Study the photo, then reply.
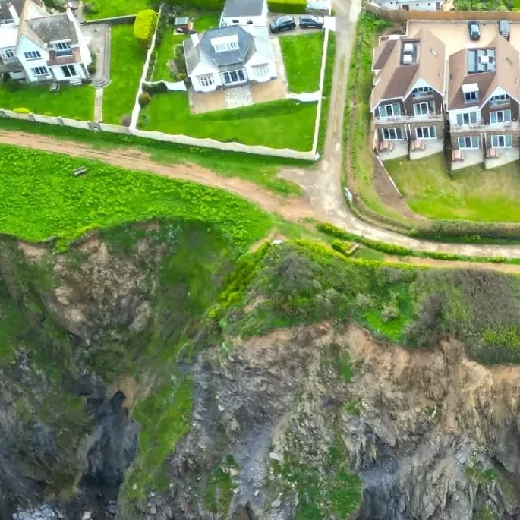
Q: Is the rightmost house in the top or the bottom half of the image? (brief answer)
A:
top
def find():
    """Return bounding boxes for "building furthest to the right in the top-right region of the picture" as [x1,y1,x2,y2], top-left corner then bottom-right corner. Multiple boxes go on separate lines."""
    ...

[445,34,520,154]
